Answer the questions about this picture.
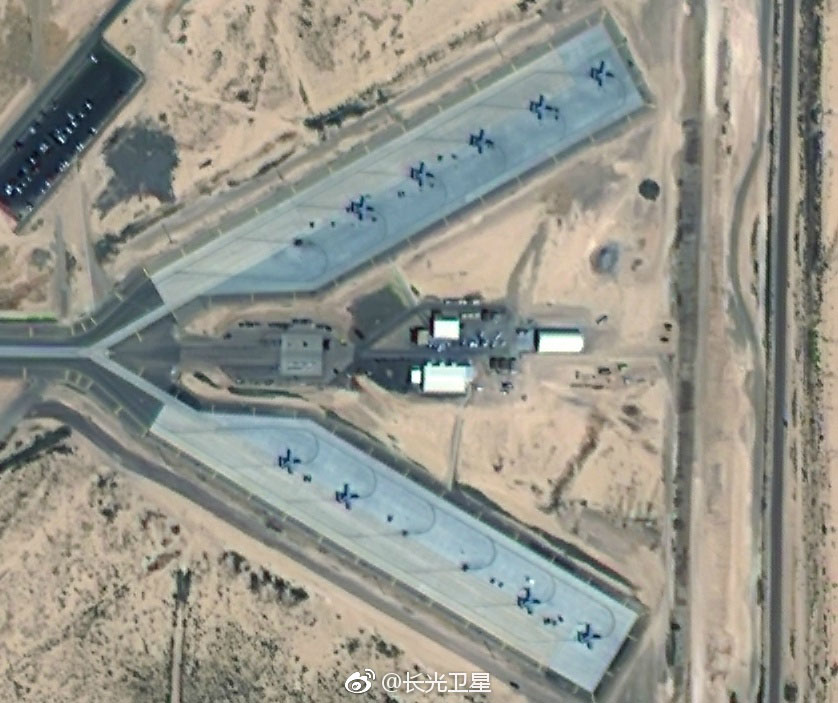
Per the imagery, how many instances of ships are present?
0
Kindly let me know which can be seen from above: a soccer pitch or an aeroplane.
aeroplane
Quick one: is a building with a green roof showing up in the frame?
No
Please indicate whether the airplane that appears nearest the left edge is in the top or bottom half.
bottom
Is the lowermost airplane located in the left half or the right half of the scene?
right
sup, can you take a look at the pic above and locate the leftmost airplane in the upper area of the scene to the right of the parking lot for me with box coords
[349,196,374,220]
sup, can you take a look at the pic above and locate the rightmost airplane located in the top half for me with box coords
[591,61,615,86]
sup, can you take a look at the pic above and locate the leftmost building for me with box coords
[282,333,322,376]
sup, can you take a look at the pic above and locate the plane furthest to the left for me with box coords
[278,449,302,474]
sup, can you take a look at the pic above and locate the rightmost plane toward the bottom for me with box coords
[578,624,601,649]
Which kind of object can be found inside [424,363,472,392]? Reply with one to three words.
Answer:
hangar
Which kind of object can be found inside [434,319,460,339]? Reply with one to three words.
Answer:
hangar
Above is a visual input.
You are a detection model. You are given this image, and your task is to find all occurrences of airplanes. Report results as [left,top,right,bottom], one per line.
[578,624,601,649]
[278,449,302,474]
[349,196,374,220]
[336,484,359,509]
[518,589,541,615]
[529,94,552,119]
[591,61,615,86]
[410,161,434,187]
[470,128,493,154]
